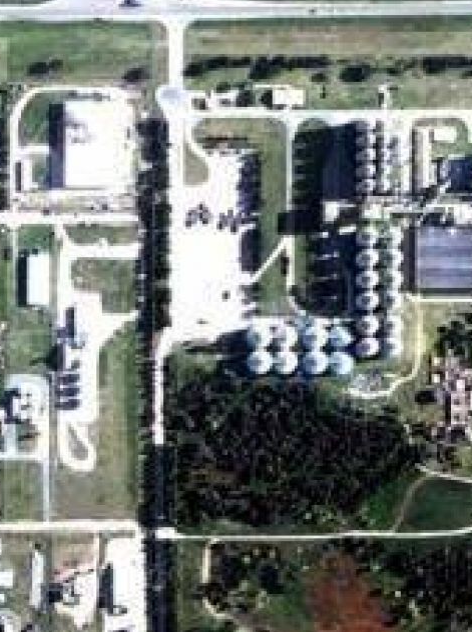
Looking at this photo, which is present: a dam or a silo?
silo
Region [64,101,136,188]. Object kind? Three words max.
building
